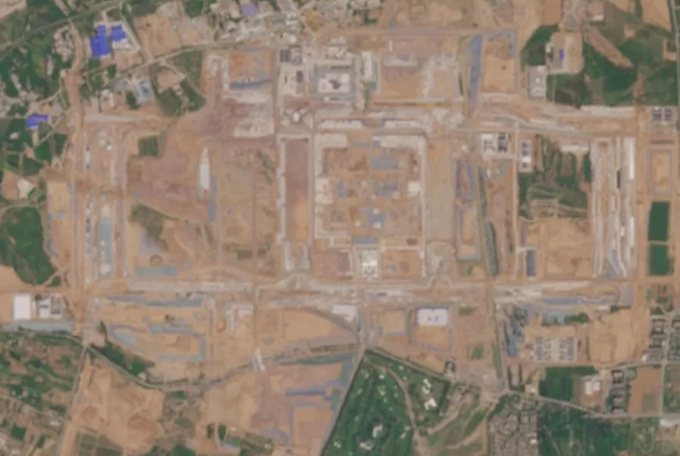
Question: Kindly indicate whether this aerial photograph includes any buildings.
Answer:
Yes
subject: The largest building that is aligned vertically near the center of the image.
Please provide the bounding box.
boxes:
[373,135,427,274]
